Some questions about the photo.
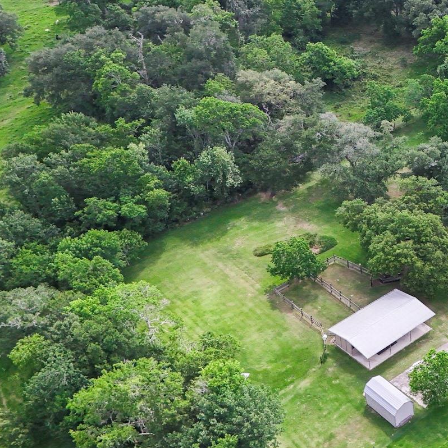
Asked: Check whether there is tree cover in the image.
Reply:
Yes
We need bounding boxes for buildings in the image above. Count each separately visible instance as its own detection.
[363,377,414,429]
[327,287,436,372]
